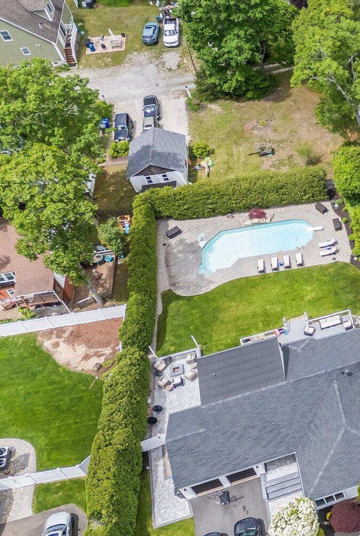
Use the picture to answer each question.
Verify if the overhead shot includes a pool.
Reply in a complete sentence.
Yes, there's a pool here.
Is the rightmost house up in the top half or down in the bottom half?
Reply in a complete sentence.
Seen from above, the rightmost house lies in the bottom half of the view.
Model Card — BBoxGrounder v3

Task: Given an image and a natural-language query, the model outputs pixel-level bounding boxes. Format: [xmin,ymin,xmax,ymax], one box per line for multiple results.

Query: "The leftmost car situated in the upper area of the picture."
[110,111,132,142]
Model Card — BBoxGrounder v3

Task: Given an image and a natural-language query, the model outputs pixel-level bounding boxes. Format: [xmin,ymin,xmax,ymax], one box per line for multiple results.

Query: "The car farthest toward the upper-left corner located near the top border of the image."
[142,26,159,44]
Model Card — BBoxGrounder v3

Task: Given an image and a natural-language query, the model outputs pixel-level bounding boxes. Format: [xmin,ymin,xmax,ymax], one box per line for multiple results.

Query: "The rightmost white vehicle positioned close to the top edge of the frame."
[161,19,179,45]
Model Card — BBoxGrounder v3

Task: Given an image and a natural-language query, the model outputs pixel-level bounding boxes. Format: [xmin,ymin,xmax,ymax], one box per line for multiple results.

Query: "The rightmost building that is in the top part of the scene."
[127,128,191,186]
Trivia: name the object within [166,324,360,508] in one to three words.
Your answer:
house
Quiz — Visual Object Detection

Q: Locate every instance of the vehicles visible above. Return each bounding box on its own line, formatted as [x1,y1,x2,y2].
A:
[110,111,132,142]
[142,26,159,44]
[140,92,161,120]
[161,19,179,45]
[40,511,75,536]
[234,516,262,536]
[140,114,159,137]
